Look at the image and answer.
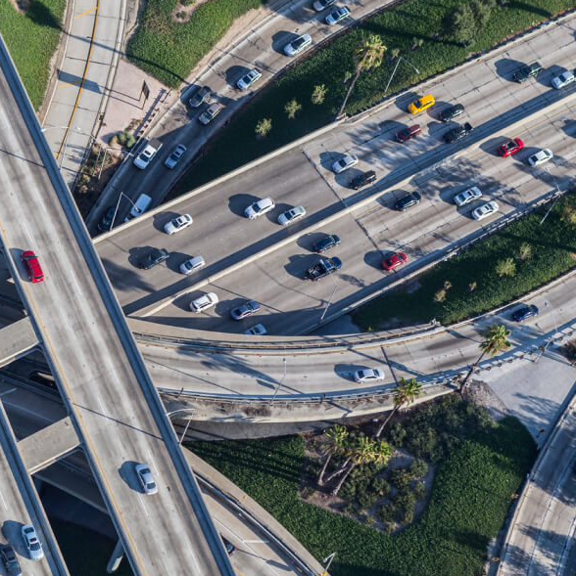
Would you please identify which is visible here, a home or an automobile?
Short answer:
automobile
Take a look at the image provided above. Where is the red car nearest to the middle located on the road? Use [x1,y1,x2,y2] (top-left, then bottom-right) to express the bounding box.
[379,251,408,272]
